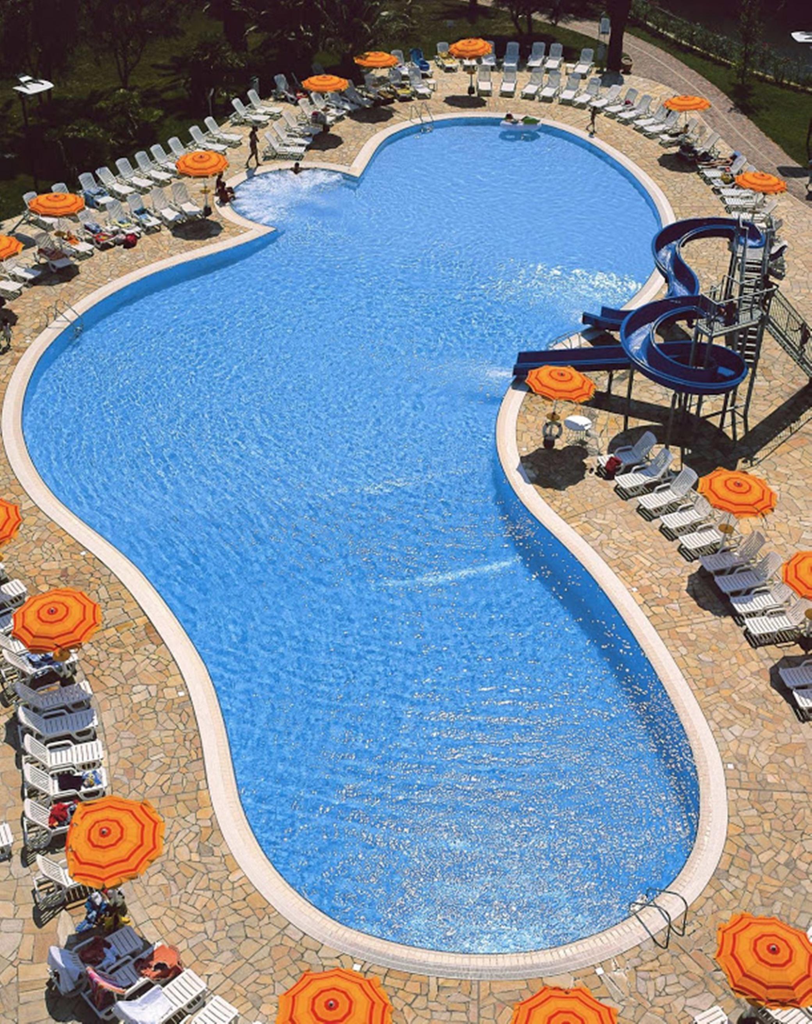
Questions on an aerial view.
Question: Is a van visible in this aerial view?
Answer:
No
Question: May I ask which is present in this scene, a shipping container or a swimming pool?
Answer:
swimming pool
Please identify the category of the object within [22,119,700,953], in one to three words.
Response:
swimming pool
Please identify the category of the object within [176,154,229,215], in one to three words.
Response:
umbrella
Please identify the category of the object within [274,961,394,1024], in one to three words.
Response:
umbrella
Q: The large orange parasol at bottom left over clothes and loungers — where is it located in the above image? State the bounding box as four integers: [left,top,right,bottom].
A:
[62,792,170,910]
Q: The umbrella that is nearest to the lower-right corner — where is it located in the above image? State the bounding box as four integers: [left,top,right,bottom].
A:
[713,905,812,1024]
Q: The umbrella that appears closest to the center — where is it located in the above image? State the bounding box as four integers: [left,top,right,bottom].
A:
[524,362,593,441]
